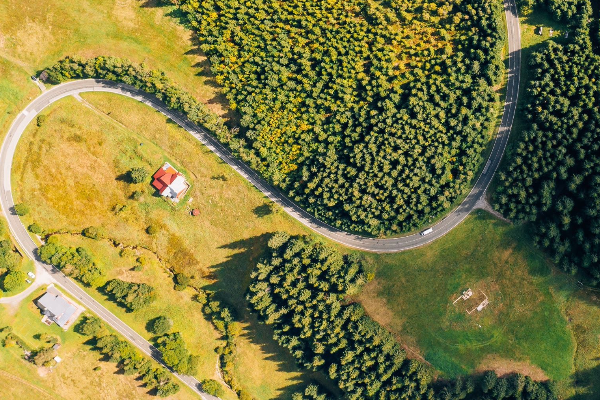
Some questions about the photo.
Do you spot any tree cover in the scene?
Yes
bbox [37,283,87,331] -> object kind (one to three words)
house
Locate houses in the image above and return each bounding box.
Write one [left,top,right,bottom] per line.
[153,162,192,206]
[37,283,87,331]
